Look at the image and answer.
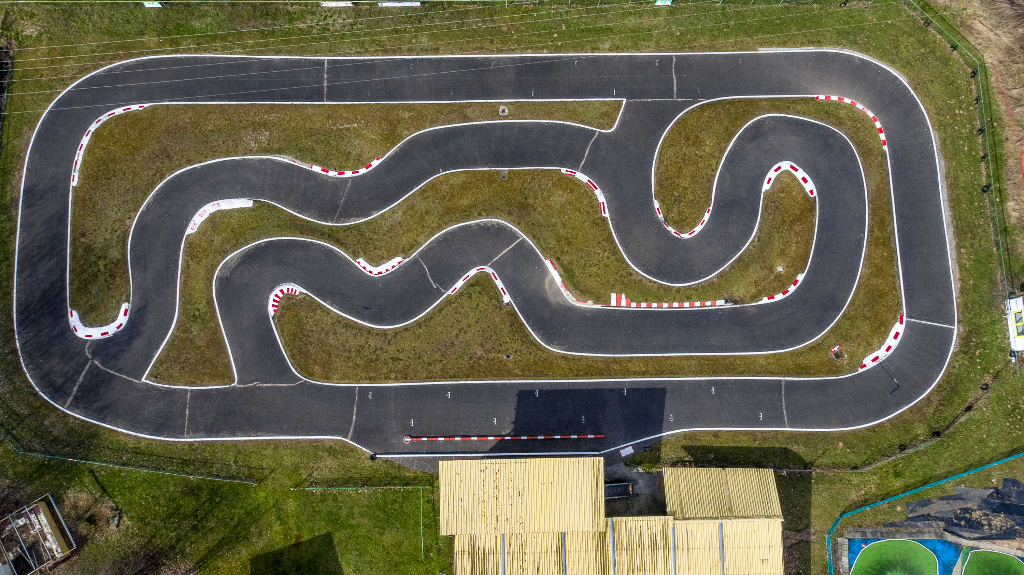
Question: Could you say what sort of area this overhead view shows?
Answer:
sports ground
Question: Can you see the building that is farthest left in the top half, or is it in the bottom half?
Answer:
bottom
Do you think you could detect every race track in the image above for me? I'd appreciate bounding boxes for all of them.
[13,49,957,474]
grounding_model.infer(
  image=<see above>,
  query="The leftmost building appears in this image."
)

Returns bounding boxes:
[439,457,605,535]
